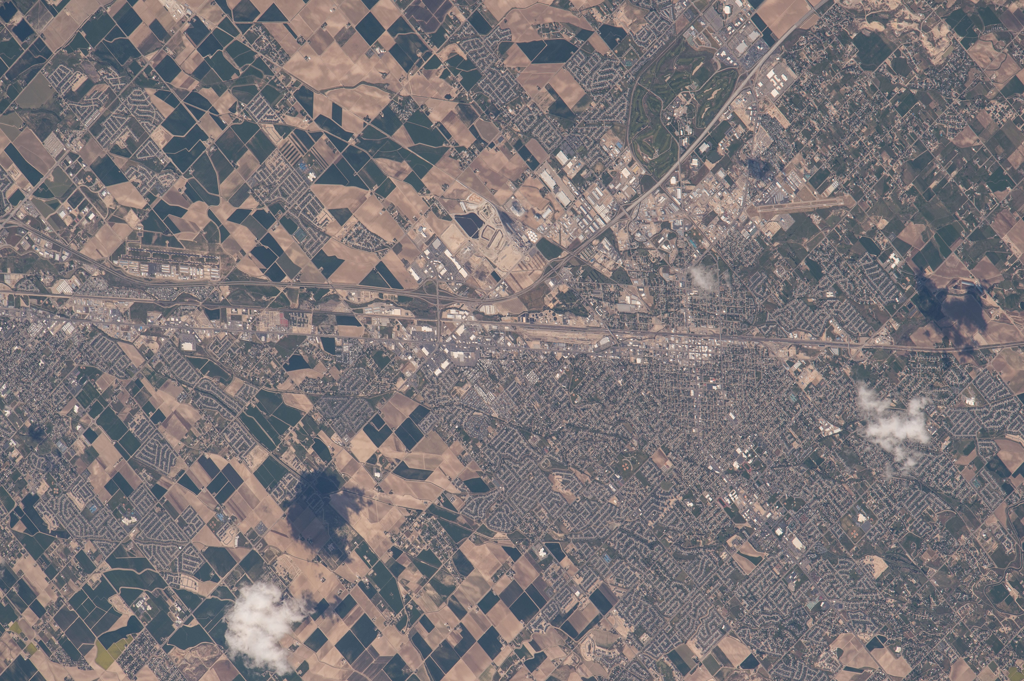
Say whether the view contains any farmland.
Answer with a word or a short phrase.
Yes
